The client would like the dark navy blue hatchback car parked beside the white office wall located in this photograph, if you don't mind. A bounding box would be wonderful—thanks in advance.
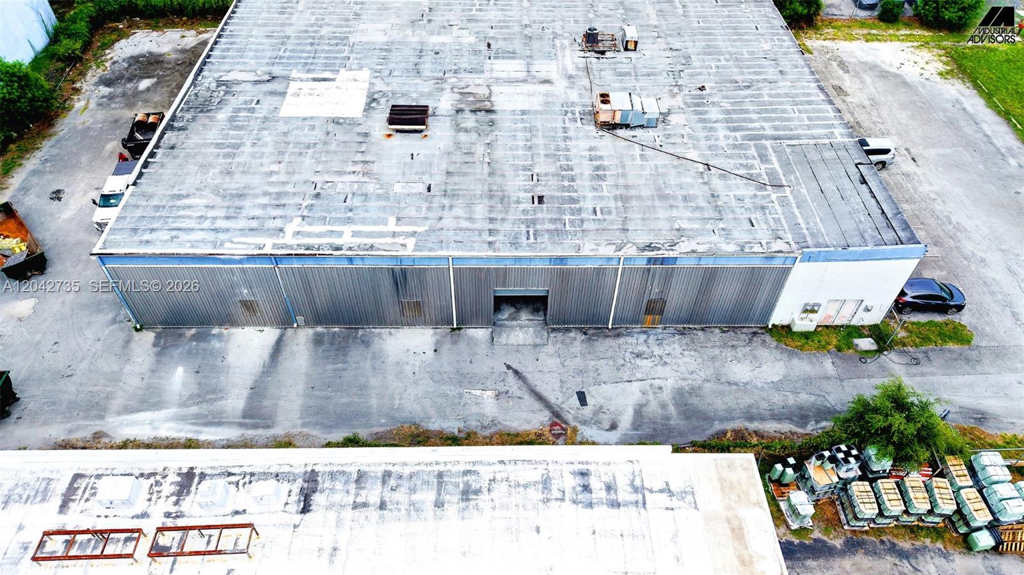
[894,279,968,315]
